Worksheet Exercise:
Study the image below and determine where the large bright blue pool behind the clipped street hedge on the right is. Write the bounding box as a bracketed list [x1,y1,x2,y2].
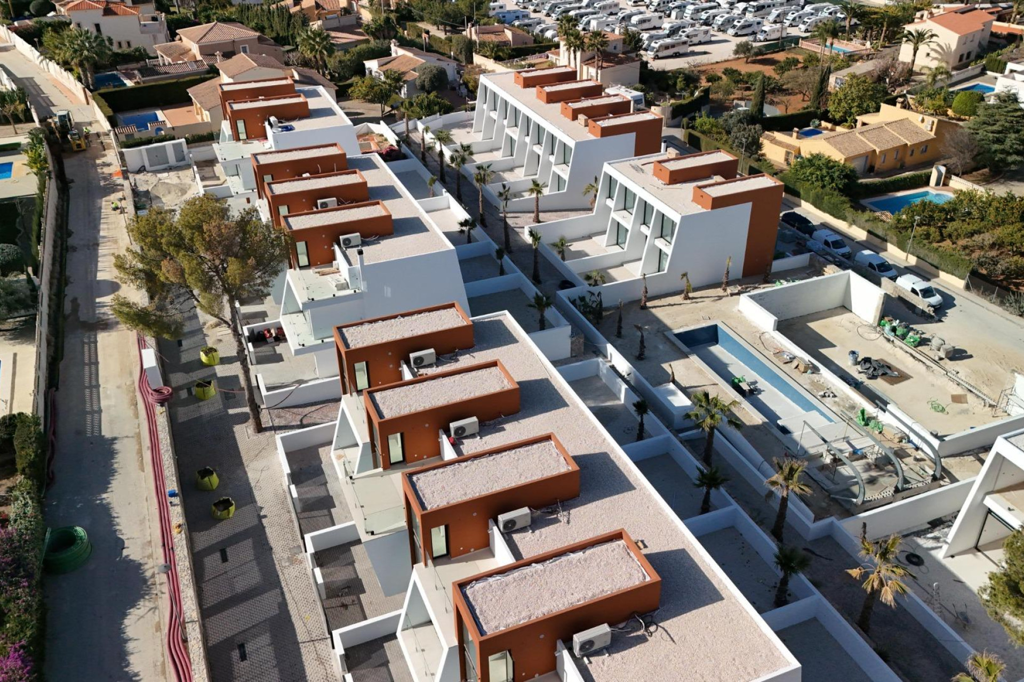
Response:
[858,189,957,216]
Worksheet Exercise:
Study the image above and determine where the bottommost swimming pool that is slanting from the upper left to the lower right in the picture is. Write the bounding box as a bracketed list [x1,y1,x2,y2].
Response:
[662,318,851,455]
